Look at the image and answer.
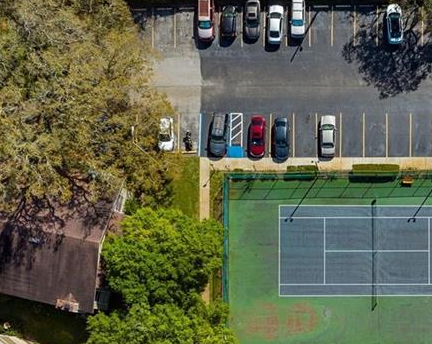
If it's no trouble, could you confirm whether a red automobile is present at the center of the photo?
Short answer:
Yes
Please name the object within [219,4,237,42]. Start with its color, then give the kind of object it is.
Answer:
black car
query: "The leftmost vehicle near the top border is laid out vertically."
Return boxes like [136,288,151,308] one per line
[196,0,216,43]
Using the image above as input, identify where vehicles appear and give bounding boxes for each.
[288,0,307,40]
[219,4,237,42]
[196,0,216,43]
[248,116,267,158]
[266,5,284,46]
[208,112,228,158]
[271,117,290,161]
[242,0,261,41]
[318,115,337,158]
[385,3,402,46]
[156,117,175,153]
